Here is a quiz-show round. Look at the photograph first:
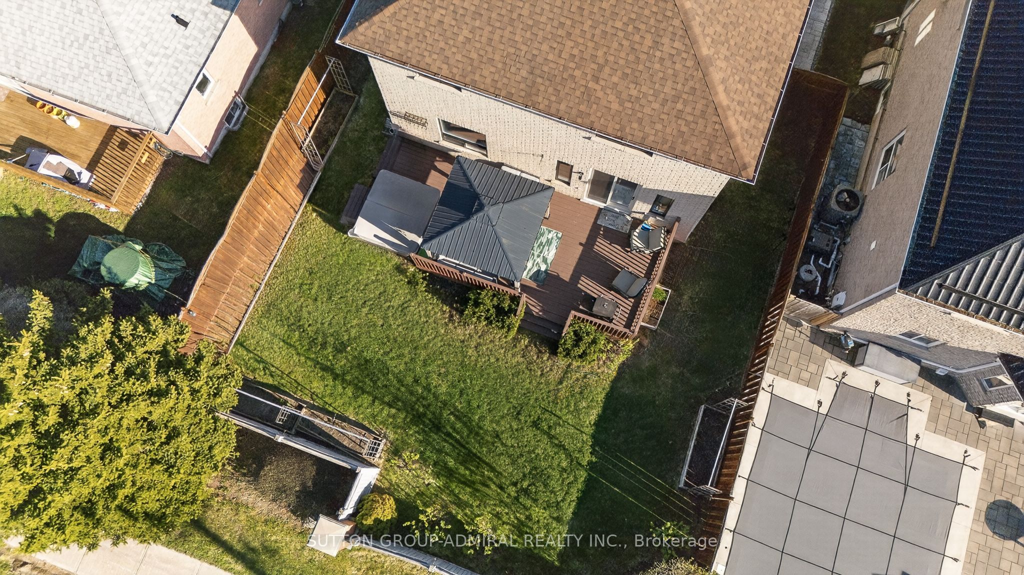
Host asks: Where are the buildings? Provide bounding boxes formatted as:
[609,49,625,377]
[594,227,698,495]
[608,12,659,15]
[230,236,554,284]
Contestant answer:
[806,0,1024,438]
[333,0,811,243]
[0,0,299,163]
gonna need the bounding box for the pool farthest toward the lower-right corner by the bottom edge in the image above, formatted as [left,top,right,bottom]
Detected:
[702,359,986,575]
